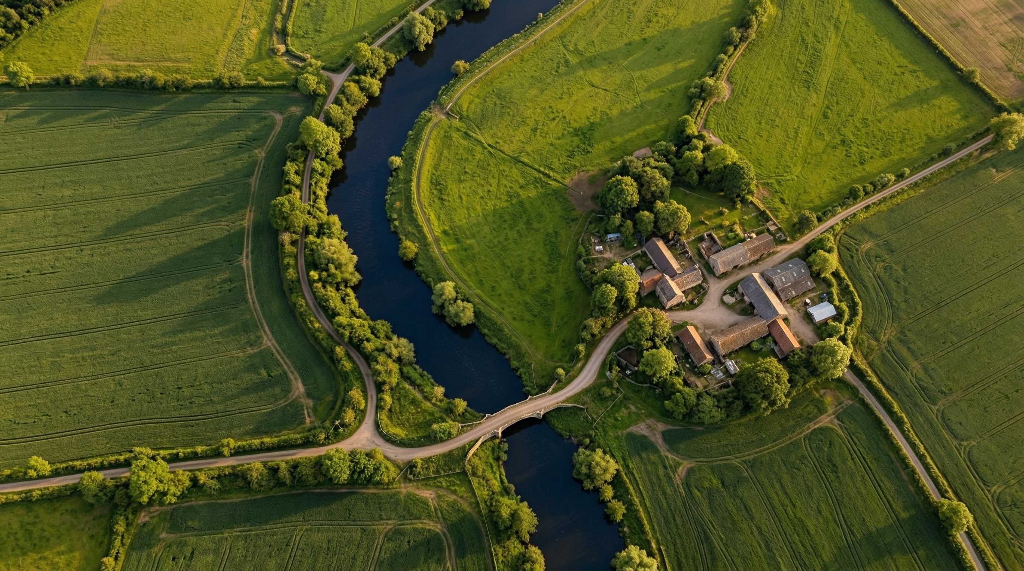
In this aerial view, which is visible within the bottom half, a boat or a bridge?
bridge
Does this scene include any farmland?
Yes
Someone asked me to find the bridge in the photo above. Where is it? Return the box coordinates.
[461,392,584,472]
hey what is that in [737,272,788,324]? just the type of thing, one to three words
barn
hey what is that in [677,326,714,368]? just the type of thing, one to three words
shed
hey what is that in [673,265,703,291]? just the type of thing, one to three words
house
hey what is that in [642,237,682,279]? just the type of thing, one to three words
barn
